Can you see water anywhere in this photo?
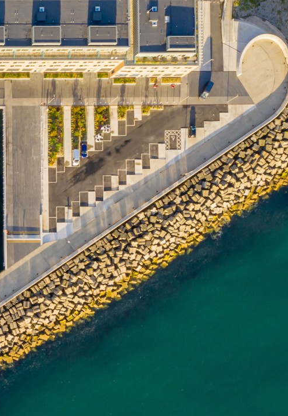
Yes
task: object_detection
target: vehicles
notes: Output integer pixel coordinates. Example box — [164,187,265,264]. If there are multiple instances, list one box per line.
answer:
[198,80,213,100]
[71,150,81,167]
[79,143,88,156]
[188,125,196,139]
